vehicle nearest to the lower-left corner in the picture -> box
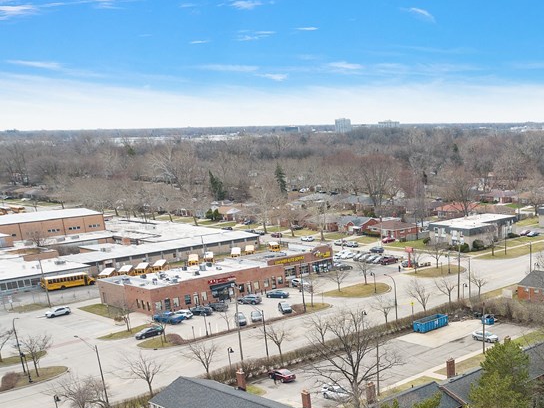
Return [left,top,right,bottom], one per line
[46,305,77,317]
